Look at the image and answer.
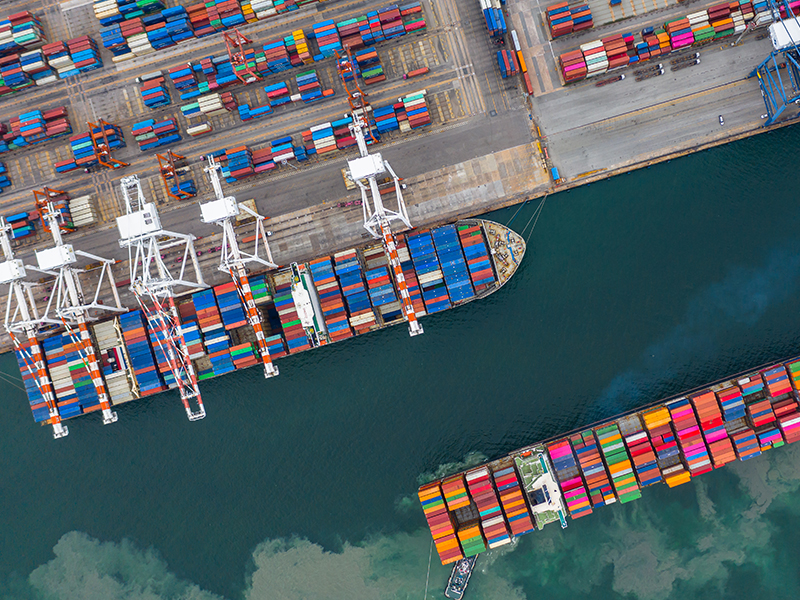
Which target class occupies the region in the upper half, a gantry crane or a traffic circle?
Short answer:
gantry crane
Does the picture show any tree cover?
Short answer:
No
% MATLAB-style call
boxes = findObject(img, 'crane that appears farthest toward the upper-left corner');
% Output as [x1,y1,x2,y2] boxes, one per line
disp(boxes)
[86,115,132,170]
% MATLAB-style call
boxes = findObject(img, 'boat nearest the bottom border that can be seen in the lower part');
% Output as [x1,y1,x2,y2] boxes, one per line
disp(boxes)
[447,552,481,600]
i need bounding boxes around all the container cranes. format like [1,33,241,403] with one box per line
[155,147,199,201]
[0,212,91,439]
[345,105,421,338]
[114,171,219,421]
[345,89,381,145]
[199,148,288,379]
[737,0,800,131]
[223,25,264,86]
[31,184,80,236]
[35,198,138,425]
[86,115,132,170]
[332,40,369,99]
